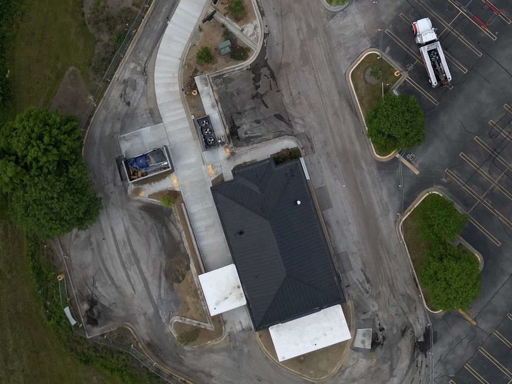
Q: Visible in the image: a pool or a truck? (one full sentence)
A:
I can see a truck in this picture.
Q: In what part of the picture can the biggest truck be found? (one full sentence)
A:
You can find the biggest truck in the top right area of the picture.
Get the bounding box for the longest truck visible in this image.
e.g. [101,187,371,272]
[414,21,454,96]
